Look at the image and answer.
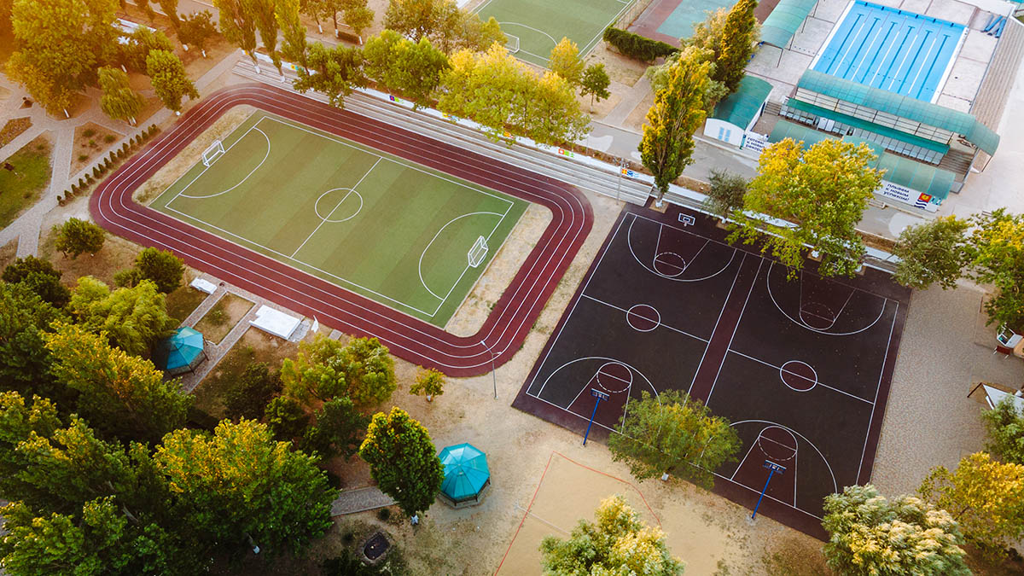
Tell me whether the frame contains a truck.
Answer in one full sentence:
No, no truck can be seen from above.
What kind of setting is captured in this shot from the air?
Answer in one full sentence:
This image shows a sports ground.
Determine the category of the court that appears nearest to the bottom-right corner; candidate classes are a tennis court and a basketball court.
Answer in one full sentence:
I'd say the court that appears nearest to the bottom-right corner is a basketball court.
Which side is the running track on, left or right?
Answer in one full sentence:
The running track sits on the left side.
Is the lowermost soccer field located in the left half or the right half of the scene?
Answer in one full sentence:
The lowermost soccer field is on the left side of the image.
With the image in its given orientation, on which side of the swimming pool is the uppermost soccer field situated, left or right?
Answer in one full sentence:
Relative to the swimming pool, the uppermost soccer field is on the left.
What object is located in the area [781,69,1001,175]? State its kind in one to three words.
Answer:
building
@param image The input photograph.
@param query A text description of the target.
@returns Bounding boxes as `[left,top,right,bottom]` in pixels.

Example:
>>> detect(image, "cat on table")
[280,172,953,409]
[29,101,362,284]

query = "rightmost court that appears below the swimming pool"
[685,258,898,517]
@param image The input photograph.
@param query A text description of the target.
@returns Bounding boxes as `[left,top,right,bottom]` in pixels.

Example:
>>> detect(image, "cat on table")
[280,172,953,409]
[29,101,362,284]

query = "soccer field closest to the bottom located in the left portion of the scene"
[146,107,533,332]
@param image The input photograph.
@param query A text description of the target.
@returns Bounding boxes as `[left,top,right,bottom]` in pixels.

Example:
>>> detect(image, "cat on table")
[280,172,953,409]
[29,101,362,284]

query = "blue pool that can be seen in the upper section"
[800,0,973,107]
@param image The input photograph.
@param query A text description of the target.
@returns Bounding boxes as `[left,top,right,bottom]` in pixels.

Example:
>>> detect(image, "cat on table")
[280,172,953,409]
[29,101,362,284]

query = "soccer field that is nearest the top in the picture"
[444,0,639,74]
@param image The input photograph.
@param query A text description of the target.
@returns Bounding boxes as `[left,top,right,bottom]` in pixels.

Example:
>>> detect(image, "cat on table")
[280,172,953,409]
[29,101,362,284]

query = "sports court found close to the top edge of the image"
[629,0,779,71]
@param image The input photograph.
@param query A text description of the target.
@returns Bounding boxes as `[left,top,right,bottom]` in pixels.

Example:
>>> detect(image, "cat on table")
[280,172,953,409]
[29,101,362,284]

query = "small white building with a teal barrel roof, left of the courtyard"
[703,75,771,148]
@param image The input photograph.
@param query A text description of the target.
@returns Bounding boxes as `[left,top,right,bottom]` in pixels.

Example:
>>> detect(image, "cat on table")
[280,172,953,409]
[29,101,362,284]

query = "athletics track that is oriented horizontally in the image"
[93,82,591,378]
